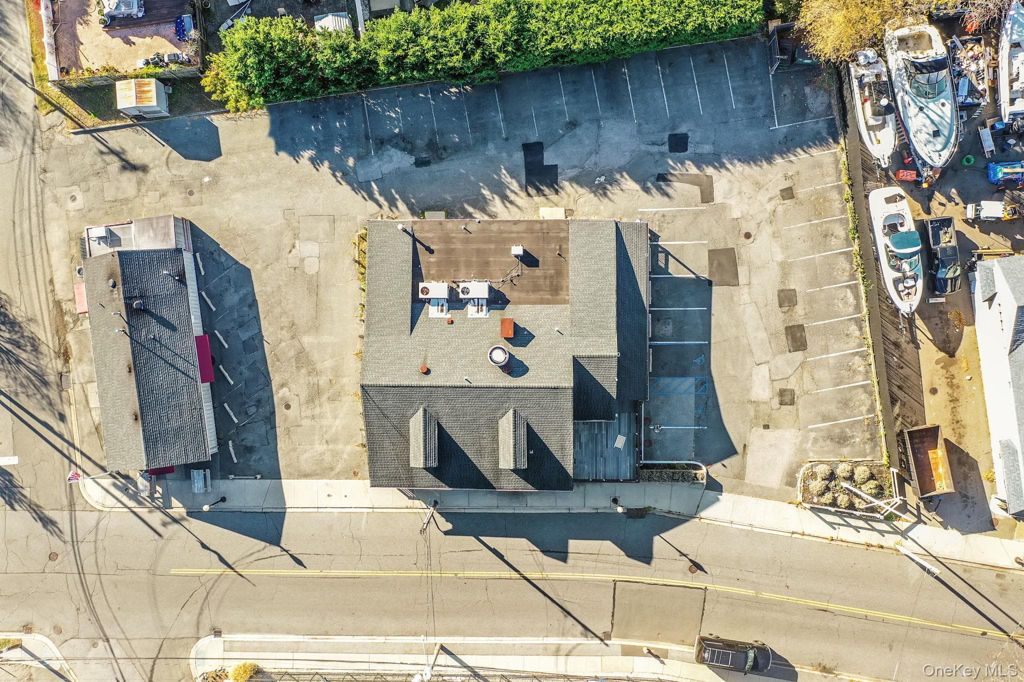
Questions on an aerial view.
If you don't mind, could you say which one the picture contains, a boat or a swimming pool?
boat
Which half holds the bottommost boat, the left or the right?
right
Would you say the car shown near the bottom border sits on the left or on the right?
right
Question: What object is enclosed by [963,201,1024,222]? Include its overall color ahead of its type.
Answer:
white work vehicle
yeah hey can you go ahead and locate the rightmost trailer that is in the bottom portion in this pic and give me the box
[896,423,954,513]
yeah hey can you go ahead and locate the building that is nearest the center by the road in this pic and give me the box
[360,218,651,492]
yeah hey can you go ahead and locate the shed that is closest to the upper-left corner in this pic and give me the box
[116,78,170,118]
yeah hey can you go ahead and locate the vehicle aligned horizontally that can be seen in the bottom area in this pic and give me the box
[691,634,772,674]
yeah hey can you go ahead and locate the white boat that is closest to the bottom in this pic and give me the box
[868,187,925,330]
